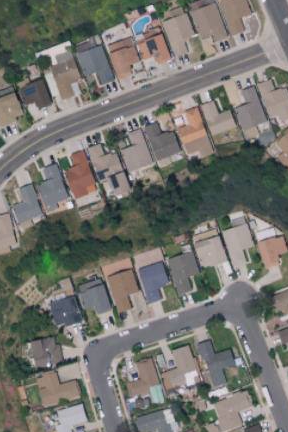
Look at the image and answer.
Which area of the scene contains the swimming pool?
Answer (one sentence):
You can find the swimming pool in the top area of the picture.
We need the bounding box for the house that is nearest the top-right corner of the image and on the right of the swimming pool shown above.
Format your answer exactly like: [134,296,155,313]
[221,0,250,35]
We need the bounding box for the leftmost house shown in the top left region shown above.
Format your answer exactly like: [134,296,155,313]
[0,86,22,126]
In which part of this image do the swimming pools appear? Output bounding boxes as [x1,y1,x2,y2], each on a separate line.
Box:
[132,16,152,36]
